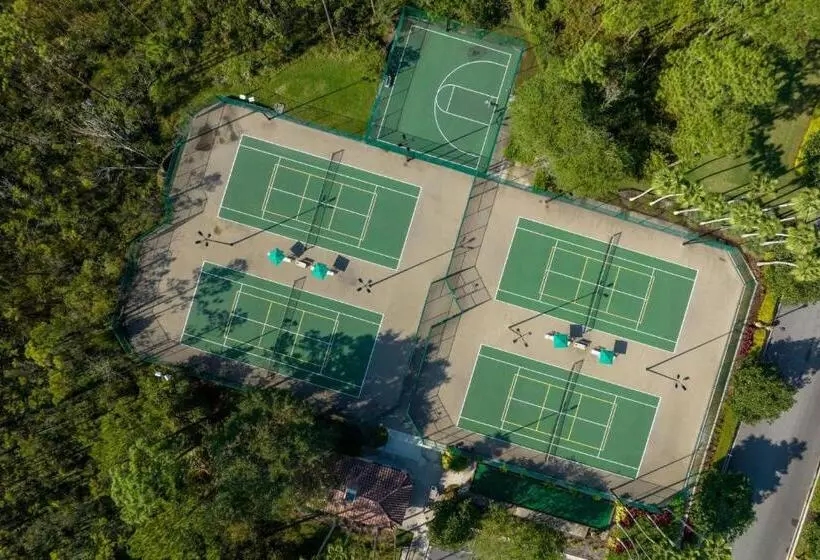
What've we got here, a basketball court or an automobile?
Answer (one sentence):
This aerial view contains a basketball court.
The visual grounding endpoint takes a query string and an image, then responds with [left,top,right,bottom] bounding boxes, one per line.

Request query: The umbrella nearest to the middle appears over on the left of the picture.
[312,263,330,280]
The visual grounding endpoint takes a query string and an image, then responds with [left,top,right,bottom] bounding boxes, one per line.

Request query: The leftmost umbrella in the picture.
[267,248,287,267]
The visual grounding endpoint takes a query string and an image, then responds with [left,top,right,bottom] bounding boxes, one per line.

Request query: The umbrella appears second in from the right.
[553,334,568,348]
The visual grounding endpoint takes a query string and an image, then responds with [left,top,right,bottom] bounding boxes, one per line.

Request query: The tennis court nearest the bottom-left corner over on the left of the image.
[181,262,383,397]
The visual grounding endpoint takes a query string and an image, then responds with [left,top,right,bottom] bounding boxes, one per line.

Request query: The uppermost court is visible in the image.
[368,17,519,179]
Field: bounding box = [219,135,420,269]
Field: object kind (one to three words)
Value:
tennis court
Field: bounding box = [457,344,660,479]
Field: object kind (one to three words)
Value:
tennis court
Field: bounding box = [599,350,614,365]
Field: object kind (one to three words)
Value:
umbrella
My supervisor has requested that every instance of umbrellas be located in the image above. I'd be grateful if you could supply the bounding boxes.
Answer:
[599,350,614,365]
[553,334,568,348]
[267,248,287,267]
[312,263,330,280]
